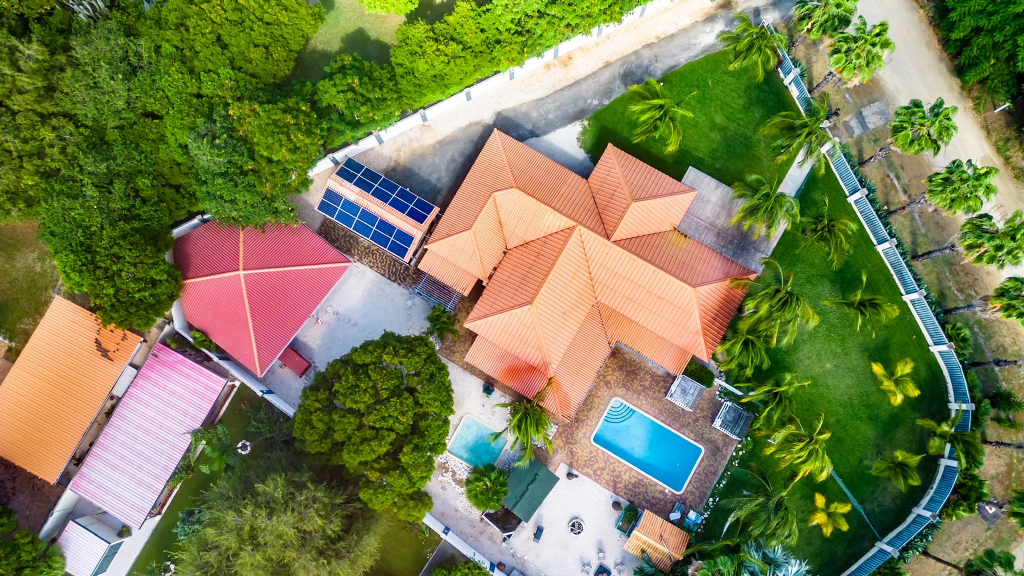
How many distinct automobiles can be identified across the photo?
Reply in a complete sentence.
I count no automobiles.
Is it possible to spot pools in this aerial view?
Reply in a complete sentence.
Yes, the photo shows a pool.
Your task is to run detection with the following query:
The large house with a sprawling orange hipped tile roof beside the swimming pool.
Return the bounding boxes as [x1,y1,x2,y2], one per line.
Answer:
[418,127,759,423]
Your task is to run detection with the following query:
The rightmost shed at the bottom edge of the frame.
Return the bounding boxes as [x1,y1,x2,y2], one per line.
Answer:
[624,510,689,574]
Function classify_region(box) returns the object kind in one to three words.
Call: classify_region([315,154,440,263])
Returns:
shed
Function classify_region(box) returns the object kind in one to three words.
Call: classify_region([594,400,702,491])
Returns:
swimming pool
